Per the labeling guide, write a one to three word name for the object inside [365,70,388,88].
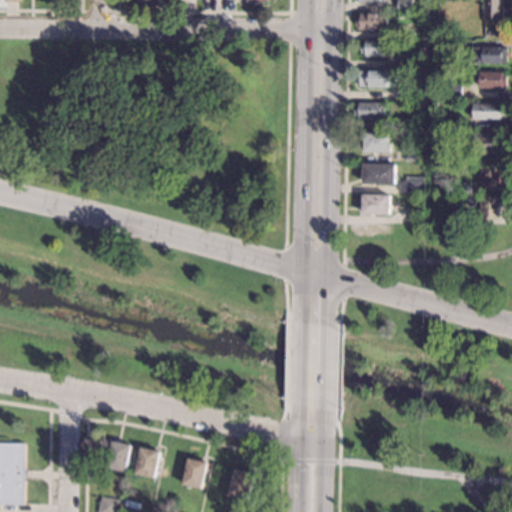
house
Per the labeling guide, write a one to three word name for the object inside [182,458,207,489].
house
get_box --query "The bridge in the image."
[284,300,346,416]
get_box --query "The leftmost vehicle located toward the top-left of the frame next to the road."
[99,4,111,20]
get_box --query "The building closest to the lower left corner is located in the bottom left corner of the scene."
[0,442,30,505]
